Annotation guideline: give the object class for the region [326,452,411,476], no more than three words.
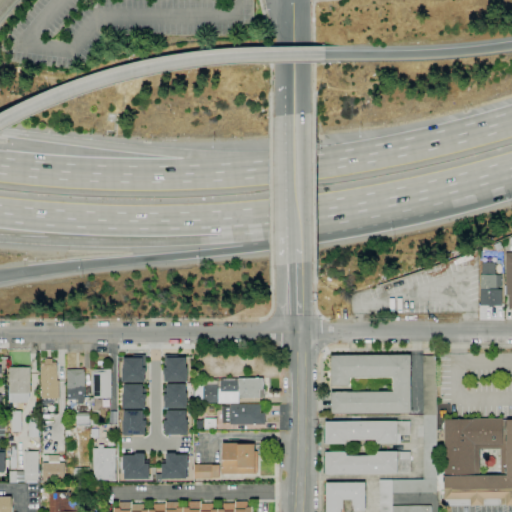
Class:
building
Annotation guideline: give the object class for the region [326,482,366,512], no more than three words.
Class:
building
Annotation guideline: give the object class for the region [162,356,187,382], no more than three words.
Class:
house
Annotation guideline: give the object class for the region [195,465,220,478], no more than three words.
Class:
house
